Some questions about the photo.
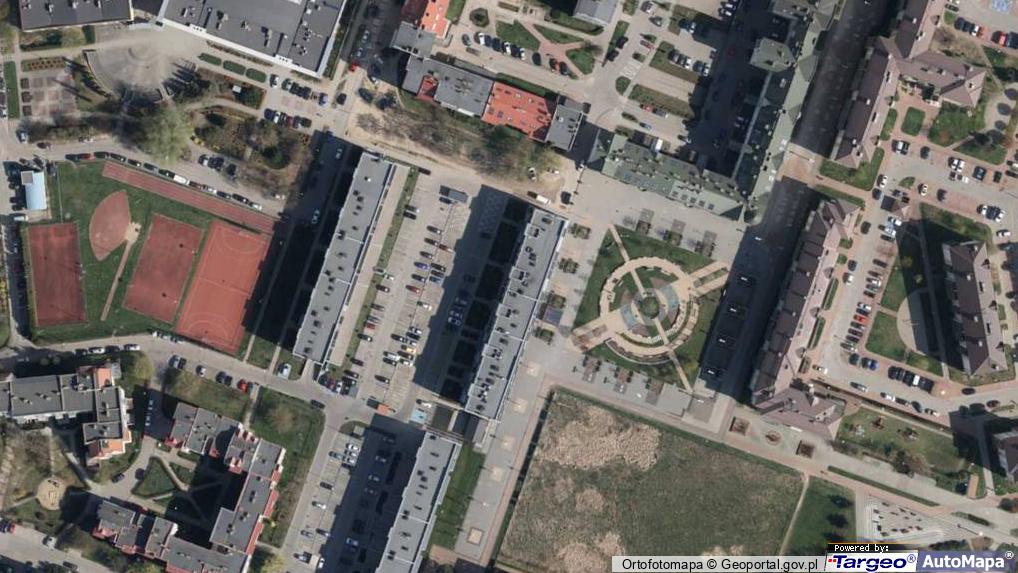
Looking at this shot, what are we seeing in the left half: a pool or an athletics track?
athletics track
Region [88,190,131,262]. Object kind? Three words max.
sports field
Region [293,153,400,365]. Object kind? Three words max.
building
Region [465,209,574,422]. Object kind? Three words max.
building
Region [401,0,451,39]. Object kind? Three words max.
house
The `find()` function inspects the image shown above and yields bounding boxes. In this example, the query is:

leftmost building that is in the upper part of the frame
[21,171,50,211]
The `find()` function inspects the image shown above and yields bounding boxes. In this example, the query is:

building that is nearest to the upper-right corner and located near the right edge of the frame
[834,0,985,170]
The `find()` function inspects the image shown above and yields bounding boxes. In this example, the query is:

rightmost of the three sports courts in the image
[175,221,271,357]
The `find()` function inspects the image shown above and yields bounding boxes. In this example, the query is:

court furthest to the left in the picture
[28,222,86,326]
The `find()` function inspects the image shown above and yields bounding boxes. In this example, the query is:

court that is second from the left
[122,212,204,324]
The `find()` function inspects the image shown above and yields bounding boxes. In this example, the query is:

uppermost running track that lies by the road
[101,160,276,235]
